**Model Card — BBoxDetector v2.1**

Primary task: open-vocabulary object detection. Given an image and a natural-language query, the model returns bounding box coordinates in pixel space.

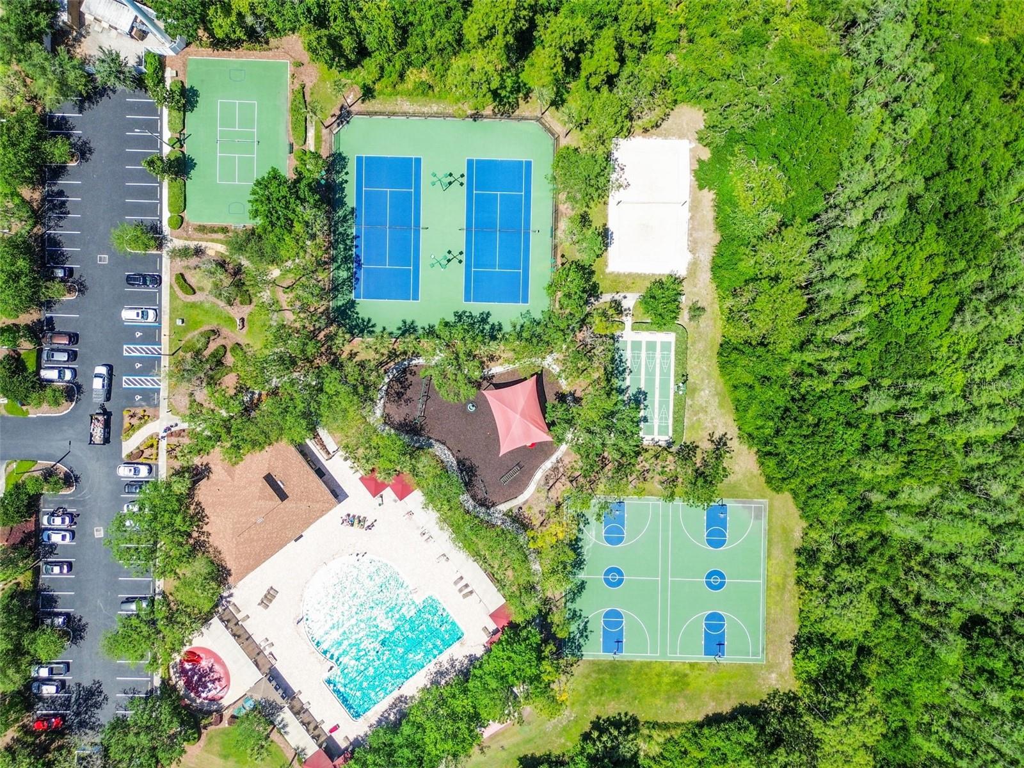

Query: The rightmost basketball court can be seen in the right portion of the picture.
[668,503,764,658]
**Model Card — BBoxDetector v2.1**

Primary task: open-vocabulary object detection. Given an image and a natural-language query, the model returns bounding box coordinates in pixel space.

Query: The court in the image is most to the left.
[186,57,289,225]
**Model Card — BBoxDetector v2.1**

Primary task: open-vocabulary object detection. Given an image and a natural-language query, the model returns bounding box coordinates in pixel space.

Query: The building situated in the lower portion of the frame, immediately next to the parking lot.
[192,429,339,584]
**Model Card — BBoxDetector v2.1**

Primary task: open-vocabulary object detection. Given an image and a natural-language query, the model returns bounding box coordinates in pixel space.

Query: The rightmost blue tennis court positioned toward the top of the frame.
[459,158,535,304]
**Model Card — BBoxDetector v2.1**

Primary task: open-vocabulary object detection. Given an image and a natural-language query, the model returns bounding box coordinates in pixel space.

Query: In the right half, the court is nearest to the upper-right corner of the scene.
[608,139,688,275]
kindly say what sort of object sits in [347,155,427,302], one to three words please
tennis court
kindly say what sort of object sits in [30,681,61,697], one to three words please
car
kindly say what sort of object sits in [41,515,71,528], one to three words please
vehicle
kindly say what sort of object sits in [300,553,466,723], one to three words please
swimming pool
